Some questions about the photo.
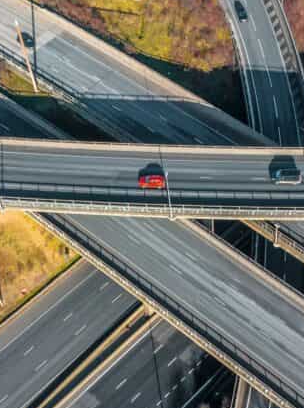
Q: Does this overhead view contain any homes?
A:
No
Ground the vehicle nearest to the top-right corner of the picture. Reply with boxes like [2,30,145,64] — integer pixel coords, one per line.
[235,6,247,21]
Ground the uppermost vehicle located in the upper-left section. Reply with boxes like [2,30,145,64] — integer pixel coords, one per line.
[17,35,36,50]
